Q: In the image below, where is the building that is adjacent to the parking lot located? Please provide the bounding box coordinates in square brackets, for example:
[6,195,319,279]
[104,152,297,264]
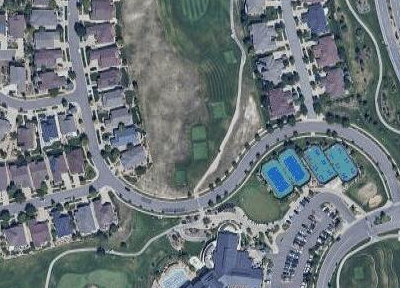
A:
[180,222,263,288]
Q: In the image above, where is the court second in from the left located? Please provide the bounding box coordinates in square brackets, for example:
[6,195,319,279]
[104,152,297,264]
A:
[278,149,310,186]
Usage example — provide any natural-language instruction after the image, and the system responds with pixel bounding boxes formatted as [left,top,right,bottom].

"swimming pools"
[151,262,197,288]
